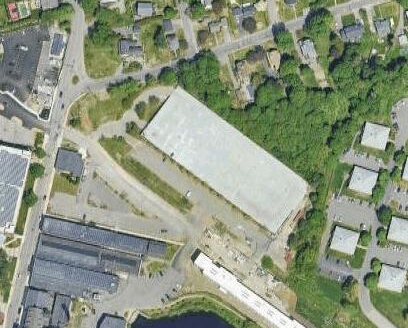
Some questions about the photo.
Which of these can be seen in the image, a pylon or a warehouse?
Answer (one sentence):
It is a warehouse that can be seen here.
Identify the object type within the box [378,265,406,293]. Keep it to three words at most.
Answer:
building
